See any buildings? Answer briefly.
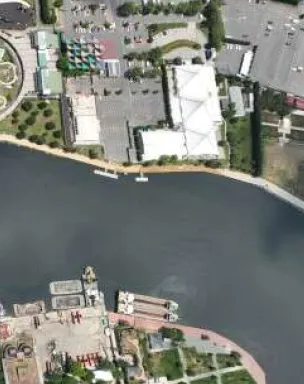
Yes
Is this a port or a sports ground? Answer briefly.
port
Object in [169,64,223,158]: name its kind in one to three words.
tent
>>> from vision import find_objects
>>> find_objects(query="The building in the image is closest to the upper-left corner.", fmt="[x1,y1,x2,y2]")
[0,3,33,31]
